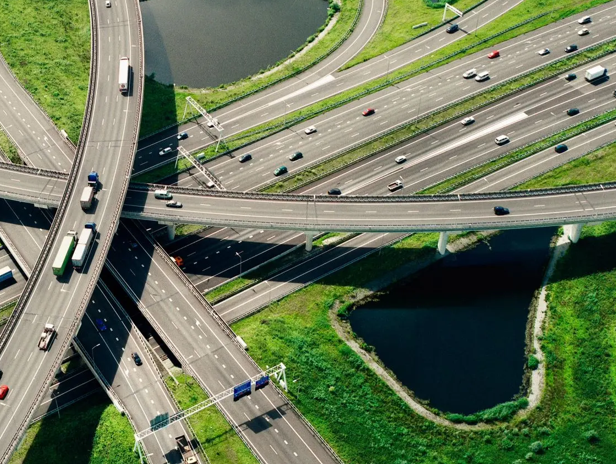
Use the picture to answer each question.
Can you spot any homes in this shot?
No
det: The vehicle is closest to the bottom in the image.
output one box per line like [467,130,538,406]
[175,431,200,464]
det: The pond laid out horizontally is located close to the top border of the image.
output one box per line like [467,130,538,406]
[140,0,330,88]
